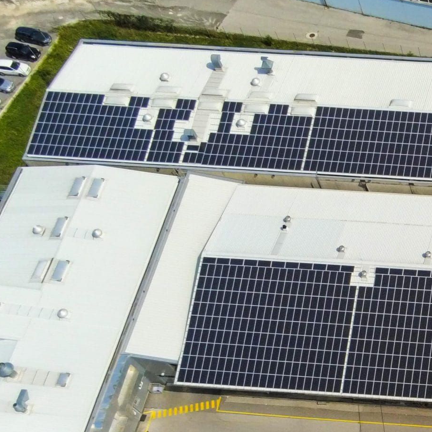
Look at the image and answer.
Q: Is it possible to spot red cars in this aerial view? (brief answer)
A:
No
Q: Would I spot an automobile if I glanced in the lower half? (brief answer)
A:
No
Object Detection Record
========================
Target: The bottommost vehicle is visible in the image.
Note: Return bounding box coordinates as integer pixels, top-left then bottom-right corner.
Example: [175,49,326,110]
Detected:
[0,78,15,95]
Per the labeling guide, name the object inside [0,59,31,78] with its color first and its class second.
white car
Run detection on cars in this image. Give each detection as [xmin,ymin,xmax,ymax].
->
[14,26,52,46]
[5,41,41,63]
[0,59,31,78]
[0,78,15,95]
